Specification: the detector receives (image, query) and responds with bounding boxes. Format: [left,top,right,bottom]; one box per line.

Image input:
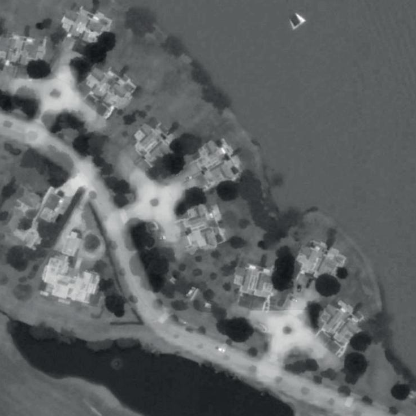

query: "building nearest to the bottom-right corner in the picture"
[311,293,371,356]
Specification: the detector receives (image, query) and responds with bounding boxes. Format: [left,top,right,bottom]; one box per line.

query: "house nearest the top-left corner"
[0,24,43,78]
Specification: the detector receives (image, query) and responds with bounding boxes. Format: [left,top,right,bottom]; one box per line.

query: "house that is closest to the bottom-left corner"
[37,231,99,305]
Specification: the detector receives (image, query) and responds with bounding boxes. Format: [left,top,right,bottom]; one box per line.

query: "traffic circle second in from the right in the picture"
[106,152,192,246]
